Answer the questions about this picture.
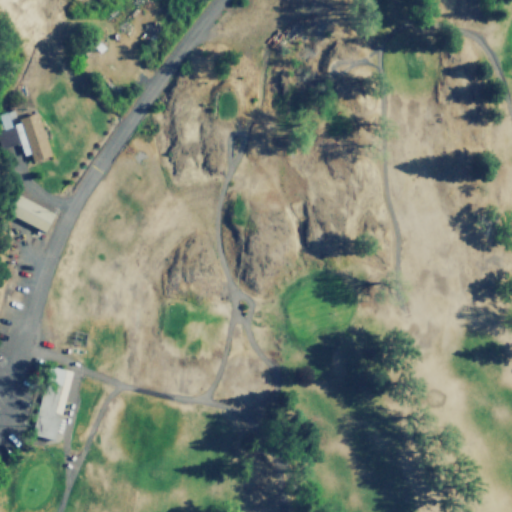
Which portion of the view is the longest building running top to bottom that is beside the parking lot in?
bottom left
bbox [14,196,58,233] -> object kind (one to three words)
building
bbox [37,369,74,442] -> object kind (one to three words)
building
